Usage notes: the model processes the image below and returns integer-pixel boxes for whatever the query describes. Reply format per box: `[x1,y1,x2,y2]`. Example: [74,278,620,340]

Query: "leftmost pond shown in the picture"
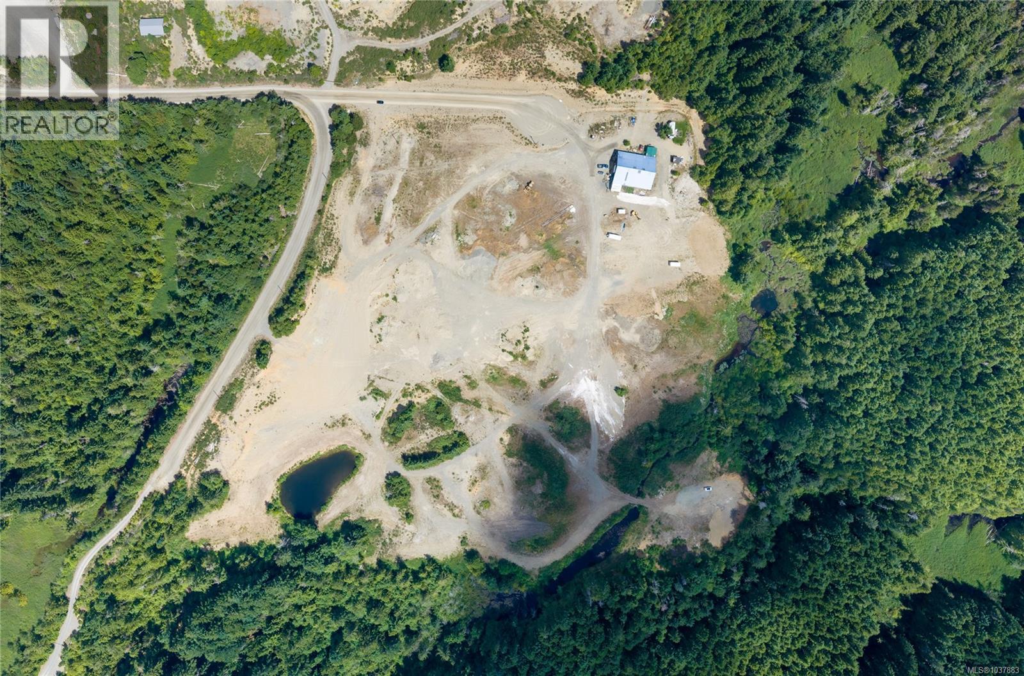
[280,449,358,520]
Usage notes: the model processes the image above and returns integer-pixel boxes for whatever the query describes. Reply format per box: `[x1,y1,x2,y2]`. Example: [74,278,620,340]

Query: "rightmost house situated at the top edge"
[137,17,164,38]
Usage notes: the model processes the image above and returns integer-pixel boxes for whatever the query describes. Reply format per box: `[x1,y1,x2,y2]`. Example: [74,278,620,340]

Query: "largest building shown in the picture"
[610,150,656,193]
